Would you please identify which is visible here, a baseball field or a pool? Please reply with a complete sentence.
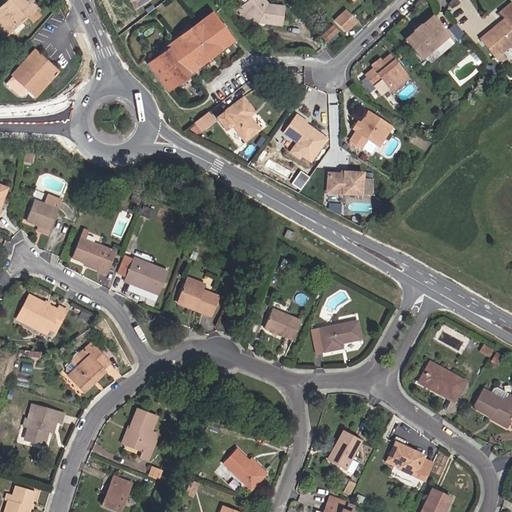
The one in the frame is a pool.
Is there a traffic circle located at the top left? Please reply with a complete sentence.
Yes, the scene does show a traffic circle at the top left.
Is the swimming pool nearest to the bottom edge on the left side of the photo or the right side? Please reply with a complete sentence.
The swimming pool nearest to the bottom edge is on the right side of the image.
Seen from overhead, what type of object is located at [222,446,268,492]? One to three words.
house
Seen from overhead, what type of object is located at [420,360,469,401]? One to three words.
house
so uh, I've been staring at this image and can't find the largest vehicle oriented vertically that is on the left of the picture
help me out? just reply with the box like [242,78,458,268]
[132,91,146,122]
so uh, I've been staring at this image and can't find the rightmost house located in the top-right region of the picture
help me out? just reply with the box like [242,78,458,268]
[480,3,512,62]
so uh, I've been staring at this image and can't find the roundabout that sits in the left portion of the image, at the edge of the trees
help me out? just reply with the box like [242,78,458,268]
[88,94,138,146]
